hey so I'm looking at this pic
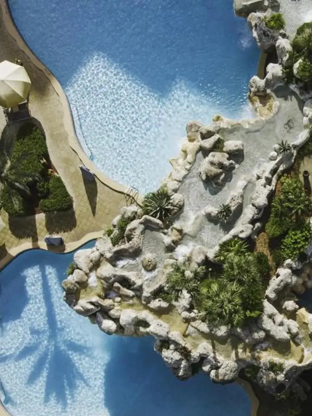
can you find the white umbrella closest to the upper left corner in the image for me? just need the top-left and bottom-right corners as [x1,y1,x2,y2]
[0,61,33,110]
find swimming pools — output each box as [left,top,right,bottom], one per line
[0,249,253,416]
[4,0,254,196]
